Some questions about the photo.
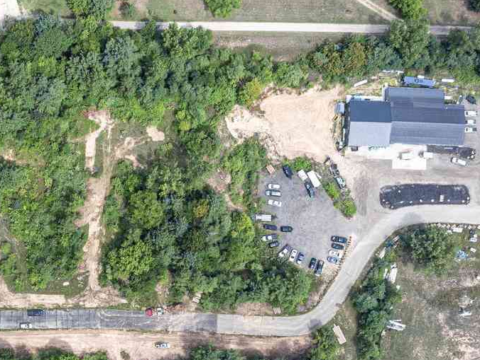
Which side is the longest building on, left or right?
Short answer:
right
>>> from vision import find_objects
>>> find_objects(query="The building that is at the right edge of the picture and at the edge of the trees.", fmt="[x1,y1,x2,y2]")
[345,87,468,148]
